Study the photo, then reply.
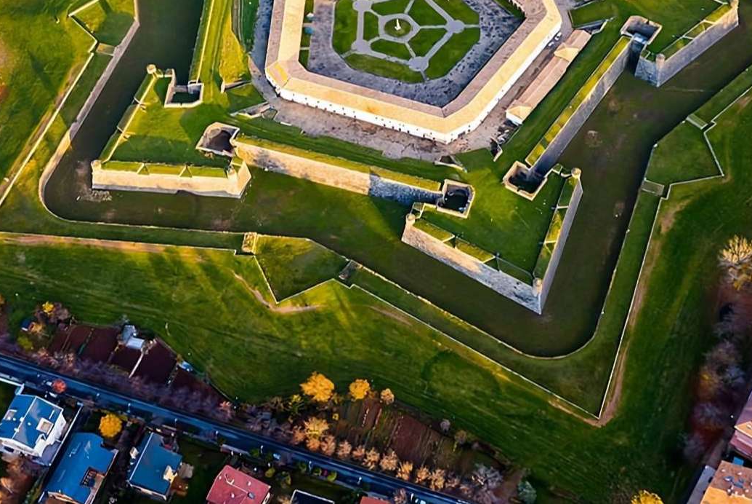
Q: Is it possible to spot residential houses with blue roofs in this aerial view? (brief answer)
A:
Yes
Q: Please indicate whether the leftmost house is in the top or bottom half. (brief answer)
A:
bottom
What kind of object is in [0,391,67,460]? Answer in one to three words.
house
